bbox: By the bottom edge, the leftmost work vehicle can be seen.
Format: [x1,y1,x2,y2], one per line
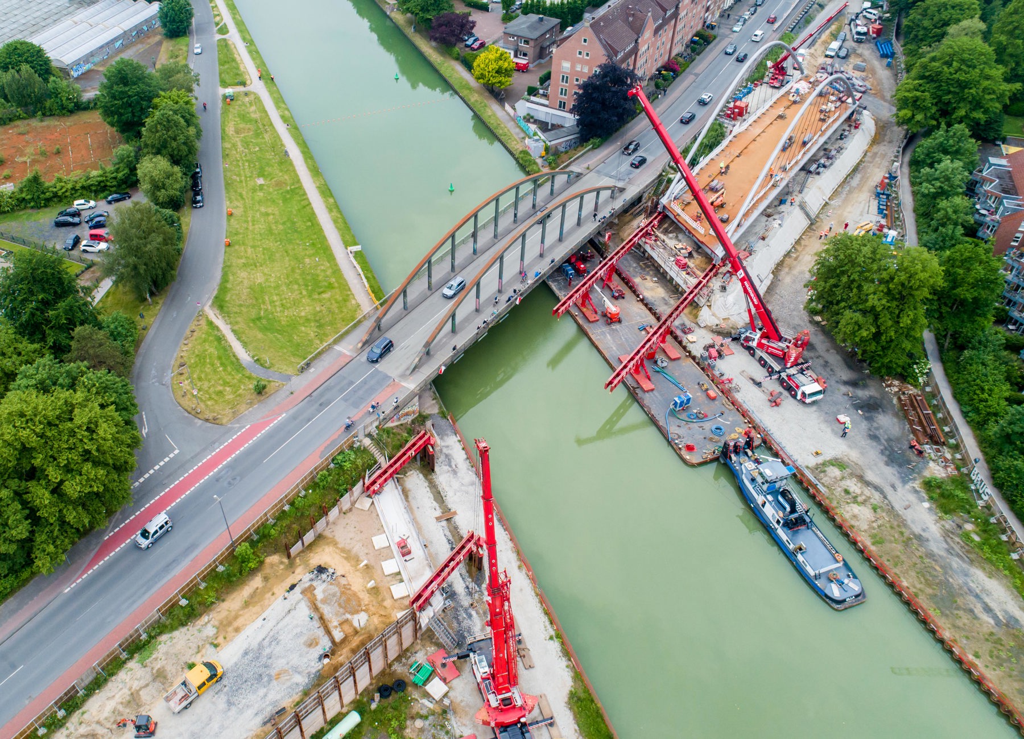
[105,715,154,739]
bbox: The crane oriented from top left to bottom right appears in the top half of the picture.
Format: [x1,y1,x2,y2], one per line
[606,83,826,401]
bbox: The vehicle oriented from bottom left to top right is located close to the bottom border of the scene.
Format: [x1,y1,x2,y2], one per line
[155,659,226,719]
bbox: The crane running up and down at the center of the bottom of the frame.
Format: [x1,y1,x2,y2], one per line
[429,430,579,739]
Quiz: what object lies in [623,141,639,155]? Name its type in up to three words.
car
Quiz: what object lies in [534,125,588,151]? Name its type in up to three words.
building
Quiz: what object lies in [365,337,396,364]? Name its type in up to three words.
car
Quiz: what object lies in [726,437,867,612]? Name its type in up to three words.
boat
